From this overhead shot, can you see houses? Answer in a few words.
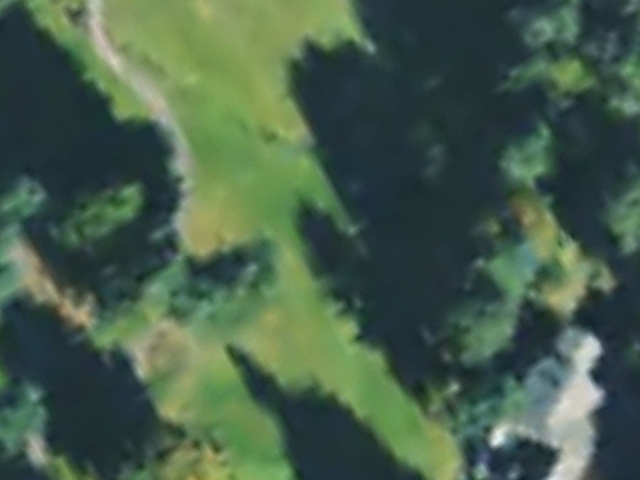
Yes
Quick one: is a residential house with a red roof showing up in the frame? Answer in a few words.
No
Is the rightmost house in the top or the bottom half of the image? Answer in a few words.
bottom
